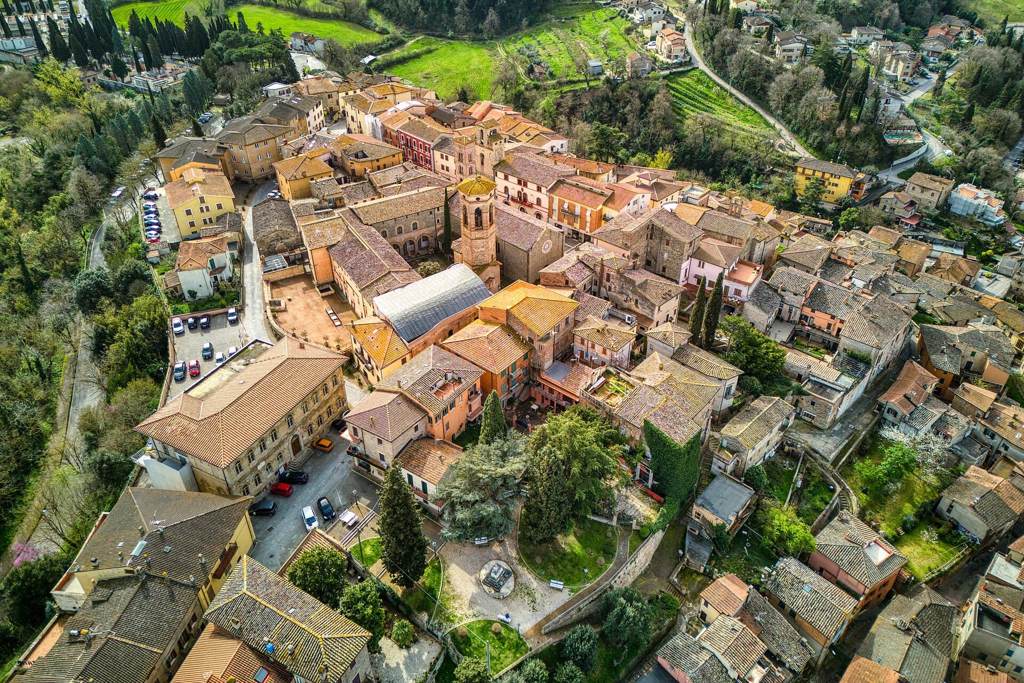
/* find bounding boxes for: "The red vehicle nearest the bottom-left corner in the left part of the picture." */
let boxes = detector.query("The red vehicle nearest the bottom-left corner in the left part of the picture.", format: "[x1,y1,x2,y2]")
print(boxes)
[268,481,293,496]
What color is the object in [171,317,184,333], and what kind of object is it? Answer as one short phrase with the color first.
white vehicle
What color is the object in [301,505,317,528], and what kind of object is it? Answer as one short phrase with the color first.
white car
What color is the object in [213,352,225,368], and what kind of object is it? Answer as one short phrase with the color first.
white vehicle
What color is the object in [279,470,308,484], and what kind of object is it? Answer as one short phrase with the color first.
black car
